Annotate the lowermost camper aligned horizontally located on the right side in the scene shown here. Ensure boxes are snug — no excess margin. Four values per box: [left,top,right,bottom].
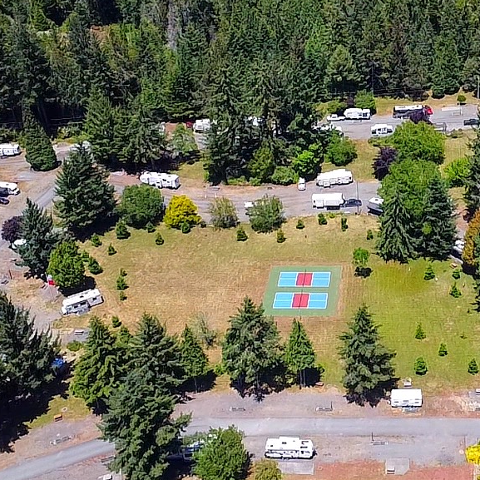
[265,436,316,458]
